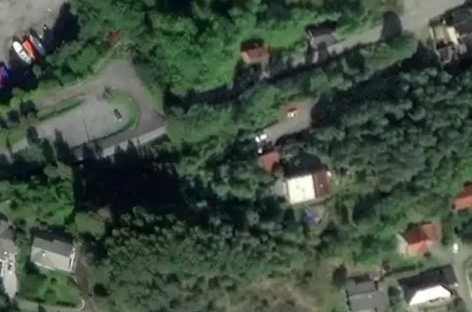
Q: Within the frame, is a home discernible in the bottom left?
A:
Yes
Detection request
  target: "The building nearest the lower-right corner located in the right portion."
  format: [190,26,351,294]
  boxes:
[401,265,456,312]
